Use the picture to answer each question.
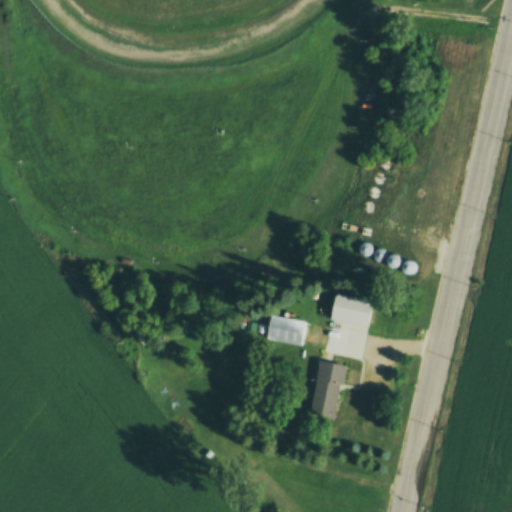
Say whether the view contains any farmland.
Yes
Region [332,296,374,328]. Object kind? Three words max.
building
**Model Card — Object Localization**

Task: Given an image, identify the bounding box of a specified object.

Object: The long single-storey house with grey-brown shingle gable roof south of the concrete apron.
[310,360,348,417]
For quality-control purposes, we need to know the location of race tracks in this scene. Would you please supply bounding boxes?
[31,0,330,68]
